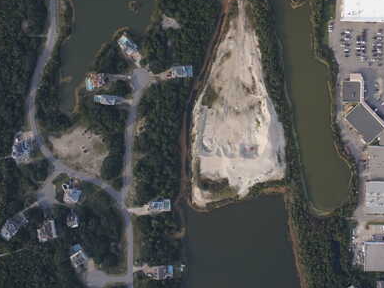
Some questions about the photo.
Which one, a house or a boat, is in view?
house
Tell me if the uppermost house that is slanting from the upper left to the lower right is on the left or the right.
left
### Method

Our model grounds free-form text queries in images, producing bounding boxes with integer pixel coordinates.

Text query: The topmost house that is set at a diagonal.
[117,32,144,64]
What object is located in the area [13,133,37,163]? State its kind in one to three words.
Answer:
house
